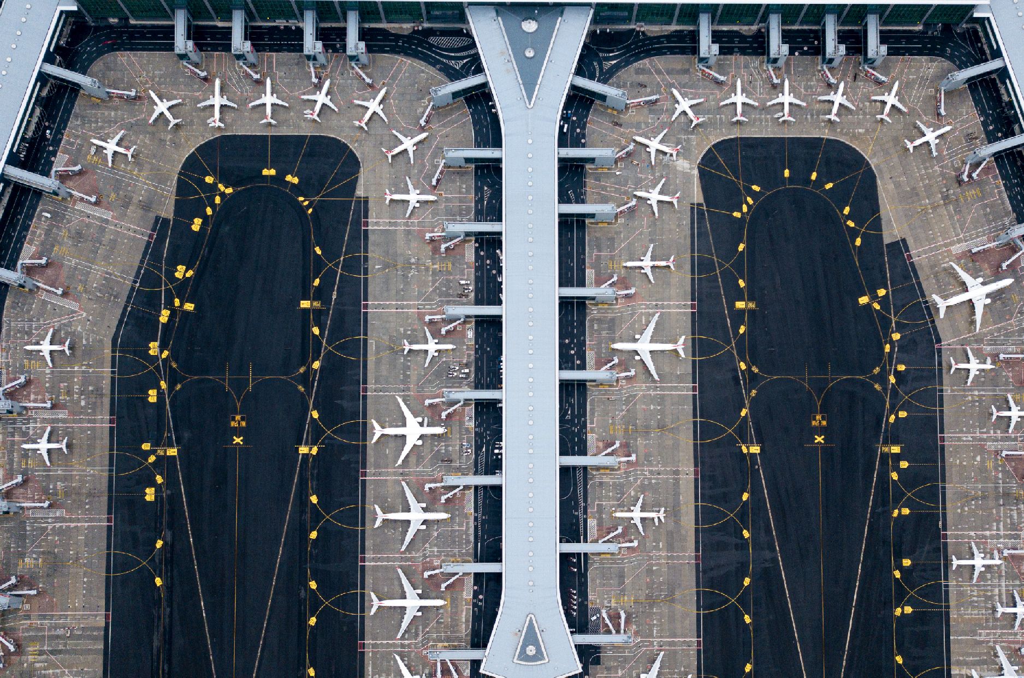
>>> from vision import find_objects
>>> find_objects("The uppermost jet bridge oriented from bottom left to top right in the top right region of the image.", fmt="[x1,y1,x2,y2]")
[936,57,1005,117]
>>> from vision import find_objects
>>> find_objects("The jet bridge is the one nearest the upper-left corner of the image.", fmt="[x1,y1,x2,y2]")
[41,62,138,100]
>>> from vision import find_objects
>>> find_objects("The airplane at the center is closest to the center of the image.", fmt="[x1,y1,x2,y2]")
[403,325,456,367]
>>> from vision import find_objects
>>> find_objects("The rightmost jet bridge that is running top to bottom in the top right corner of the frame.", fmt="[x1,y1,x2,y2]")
[862,15,888,84]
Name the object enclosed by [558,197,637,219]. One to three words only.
jet bridge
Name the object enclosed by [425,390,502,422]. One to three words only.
jet bridge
